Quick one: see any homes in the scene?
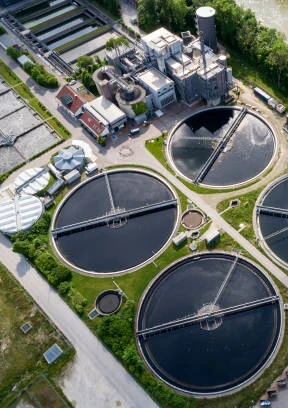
Yes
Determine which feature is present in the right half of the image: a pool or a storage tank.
storage tank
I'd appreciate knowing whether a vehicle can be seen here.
Yes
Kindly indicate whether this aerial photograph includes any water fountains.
No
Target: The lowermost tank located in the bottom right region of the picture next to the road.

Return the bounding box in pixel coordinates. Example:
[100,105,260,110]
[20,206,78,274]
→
[133,249,287,400]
